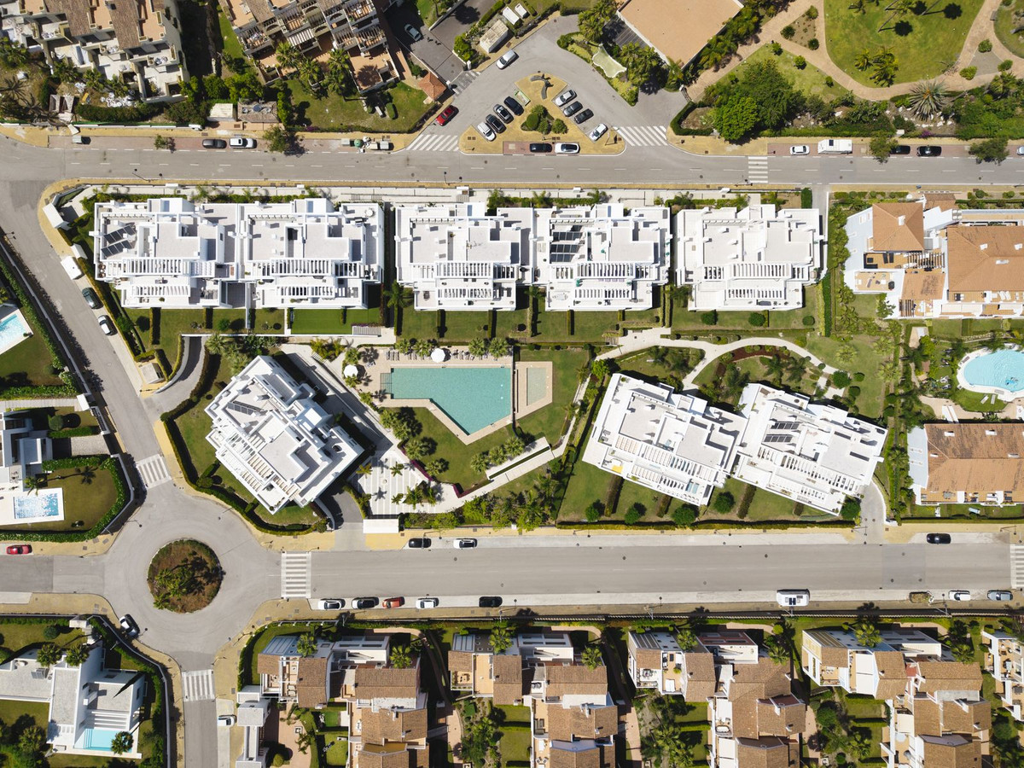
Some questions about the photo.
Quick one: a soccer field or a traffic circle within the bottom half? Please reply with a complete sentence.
The feature located within the bottom half is a traffic circle.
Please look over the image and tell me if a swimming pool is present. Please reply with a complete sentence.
Yes, a swimming pool can be made out from above.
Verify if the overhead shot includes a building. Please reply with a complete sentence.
Yes, I can see a building in this picture.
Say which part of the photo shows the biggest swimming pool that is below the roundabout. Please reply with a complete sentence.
The biggest swimming pool that is below the roundabout is located in the bottom left region of the scene.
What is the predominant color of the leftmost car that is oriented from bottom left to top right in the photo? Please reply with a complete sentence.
The leftmost car that is oriented from bottom left to top right is red.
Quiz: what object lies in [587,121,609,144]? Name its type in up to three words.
car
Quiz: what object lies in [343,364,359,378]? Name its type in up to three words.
umbrella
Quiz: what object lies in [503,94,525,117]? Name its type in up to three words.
car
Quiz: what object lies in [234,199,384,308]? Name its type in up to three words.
building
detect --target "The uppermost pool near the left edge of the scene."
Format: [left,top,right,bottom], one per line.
[0,314,33,354]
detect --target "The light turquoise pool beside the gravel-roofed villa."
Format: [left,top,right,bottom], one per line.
[47,726,141,759]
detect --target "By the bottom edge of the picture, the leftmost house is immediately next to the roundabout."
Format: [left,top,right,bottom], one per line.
[0,634,147,753]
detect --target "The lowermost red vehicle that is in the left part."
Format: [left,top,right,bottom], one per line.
[382,596,404,608]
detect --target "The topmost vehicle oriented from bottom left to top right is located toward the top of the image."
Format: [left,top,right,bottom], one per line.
[495,49,518,71]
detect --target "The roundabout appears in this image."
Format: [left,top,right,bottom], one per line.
[104,492,271,669]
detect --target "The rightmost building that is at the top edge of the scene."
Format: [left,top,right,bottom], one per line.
[610,0,743,72]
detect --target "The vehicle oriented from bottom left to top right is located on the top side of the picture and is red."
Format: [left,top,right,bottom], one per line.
[435,104,458,127]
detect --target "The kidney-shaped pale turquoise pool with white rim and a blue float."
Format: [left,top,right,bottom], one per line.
[958,343,1024,399]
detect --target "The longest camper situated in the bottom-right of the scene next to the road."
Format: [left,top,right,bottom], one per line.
[774,589,811,607]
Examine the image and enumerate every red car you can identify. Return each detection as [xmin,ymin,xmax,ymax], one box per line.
[8,544,31,555]
[382,596,404,608]
[435,104,458,127]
